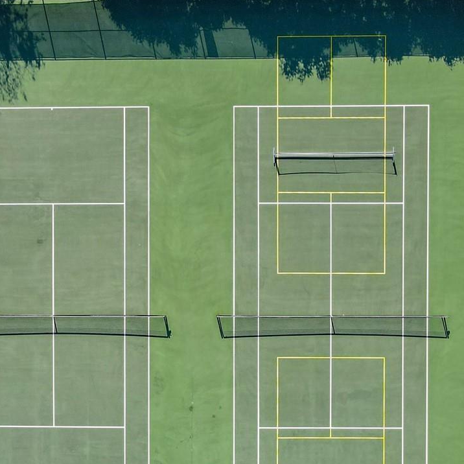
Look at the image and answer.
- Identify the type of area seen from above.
sports ground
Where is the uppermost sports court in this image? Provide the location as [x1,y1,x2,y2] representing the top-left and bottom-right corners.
[277,34,386,274]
